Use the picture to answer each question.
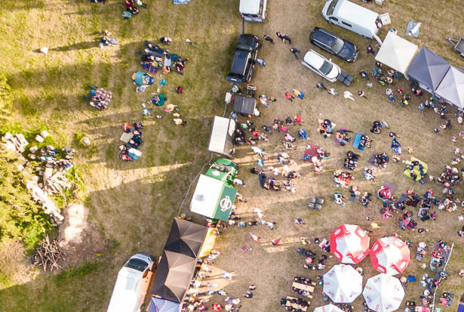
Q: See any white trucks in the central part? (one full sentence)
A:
Yes, I can see a white truck in the central part.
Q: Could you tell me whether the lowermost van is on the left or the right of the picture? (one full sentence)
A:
The lowermost van sits on the left side.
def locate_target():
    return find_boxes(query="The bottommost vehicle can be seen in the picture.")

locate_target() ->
[109,254,161,312]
